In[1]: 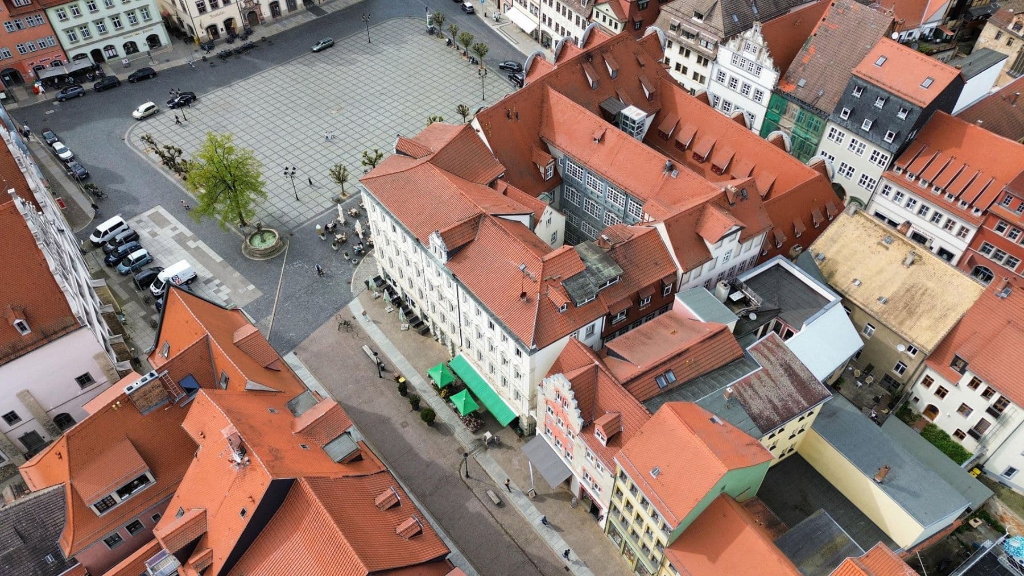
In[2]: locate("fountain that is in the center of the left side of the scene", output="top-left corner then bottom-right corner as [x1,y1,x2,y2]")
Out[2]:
[242,222,285,260]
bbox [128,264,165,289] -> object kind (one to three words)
car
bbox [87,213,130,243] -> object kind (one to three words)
van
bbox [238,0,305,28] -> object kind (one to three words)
house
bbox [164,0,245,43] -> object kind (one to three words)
house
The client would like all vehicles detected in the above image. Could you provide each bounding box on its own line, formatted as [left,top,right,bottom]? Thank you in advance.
[148,260,197,297]
[49,140,73,159]
[99,226,139,252]
[39,124,60,143]
[91,73,121,91]
[126,64,156,81]
[128,264,165,289]
[115,251,151,276]
[87,213,130,243]
[310,34,335,50]
[102,239,141,265]
[62,155,88,177]
[498,60,524,72]
[508,73,525,88]
[166,91,196,107]
[131,101,159,118]
[54,80,85,99]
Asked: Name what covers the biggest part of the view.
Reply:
buildings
